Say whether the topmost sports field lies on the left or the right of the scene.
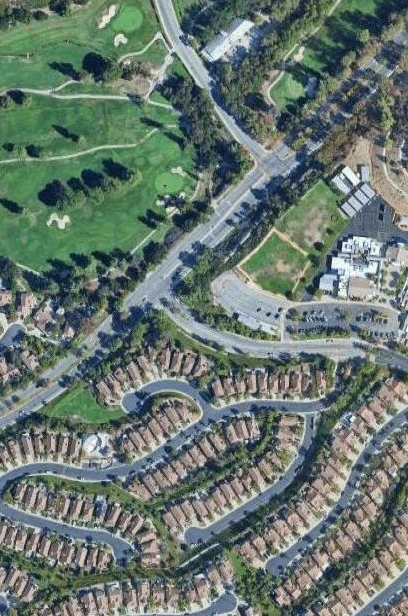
right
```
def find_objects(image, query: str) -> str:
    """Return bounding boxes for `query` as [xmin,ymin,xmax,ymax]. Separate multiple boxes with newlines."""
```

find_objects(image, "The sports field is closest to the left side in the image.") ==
[239,230,308,295]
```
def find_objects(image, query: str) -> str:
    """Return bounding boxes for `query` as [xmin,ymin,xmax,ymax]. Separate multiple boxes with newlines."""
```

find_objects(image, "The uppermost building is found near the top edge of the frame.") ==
[203,17,254,61]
